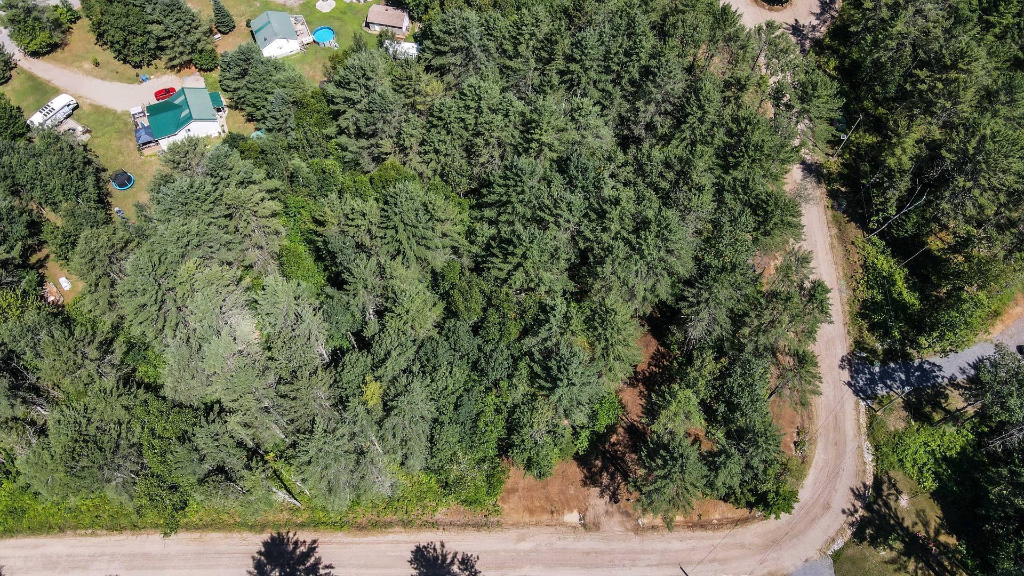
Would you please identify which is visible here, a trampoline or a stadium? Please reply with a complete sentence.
It is a trampoline that can be seen here.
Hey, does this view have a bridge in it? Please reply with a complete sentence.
No, I can see no bridge in this picture.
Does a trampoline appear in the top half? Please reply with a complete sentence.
Yes, the scene does show a trampoline in the top half.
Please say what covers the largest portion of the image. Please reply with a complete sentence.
The largest share of the image is taken up by trees.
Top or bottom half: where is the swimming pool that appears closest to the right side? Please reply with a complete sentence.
The swimming pool that appears closest to the right side is in the top half of the image.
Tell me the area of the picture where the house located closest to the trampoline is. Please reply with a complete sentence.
Look in the top left portion of the view to spot the house located closest to the trampoline.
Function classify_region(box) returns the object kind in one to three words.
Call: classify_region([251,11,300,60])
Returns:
house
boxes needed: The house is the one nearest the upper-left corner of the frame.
[146,87,230,145]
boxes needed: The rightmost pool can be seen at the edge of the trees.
[312,26,337,47]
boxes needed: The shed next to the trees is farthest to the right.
[367,9,409,39]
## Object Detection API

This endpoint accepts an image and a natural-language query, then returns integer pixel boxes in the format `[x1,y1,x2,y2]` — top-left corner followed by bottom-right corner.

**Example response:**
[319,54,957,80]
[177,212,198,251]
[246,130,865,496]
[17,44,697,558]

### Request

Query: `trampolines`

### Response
[109,168,135,192]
